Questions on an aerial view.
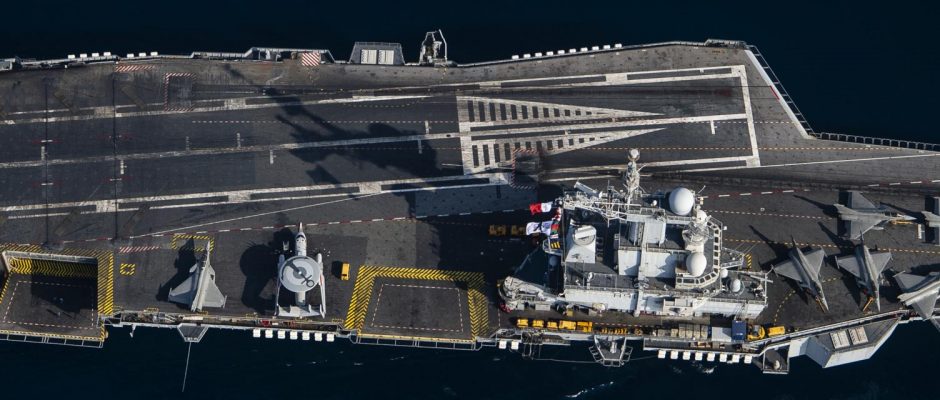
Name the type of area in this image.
parking lot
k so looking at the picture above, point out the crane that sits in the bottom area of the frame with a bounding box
[493,276,563,318]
